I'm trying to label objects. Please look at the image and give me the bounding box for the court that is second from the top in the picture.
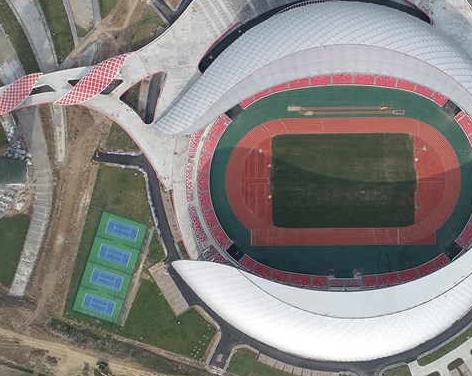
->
[88,236,140,275]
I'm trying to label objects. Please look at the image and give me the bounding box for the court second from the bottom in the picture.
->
[80,261,133,300]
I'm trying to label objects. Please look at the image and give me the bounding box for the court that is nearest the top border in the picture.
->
[95,211,148,251]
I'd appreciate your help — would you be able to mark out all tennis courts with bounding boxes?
[95,211,148,251]
[80,261,133,300]
[73,285,125,325]
[88,236,140,275]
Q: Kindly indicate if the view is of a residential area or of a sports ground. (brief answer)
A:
sports ground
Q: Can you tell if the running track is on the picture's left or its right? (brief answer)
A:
right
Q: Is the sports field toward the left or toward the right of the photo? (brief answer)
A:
right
